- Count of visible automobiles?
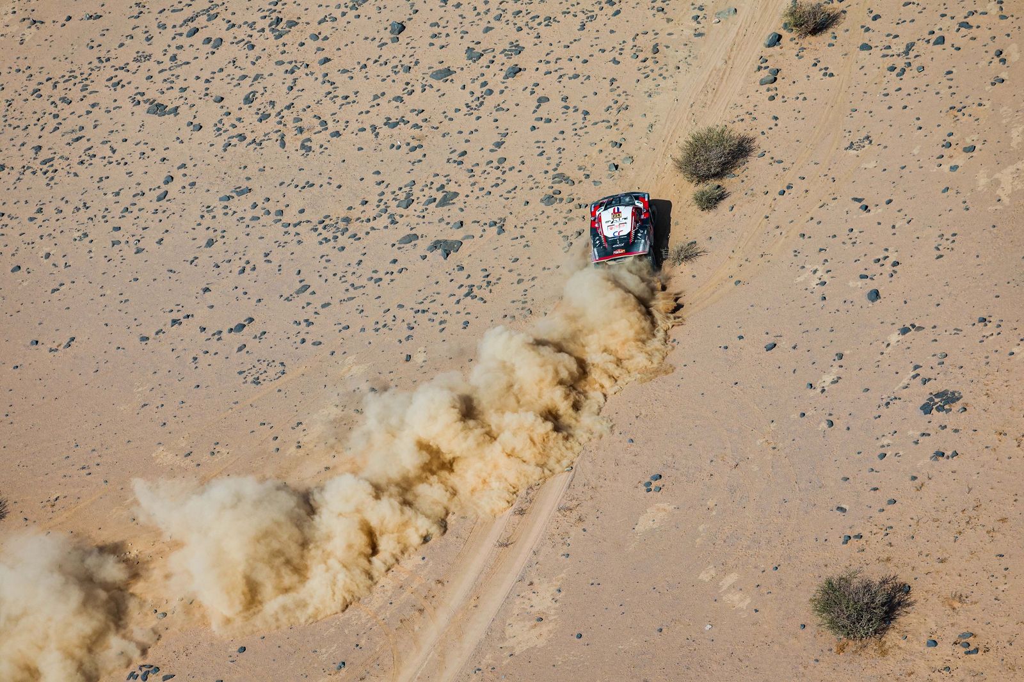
one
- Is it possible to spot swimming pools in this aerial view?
No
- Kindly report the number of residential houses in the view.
0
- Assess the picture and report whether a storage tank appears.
No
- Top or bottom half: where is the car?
top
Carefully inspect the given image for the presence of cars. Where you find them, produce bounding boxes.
[590,192,657,282]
